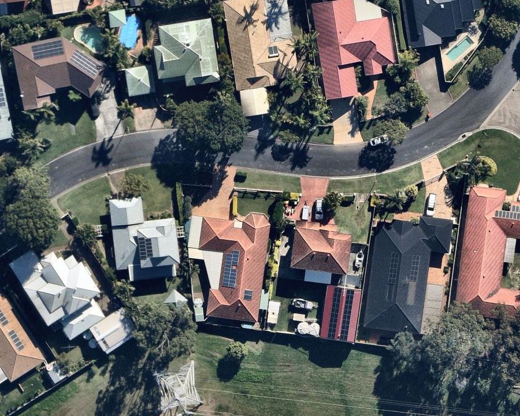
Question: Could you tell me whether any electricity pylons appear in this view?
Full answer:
Yes, looking at the shot, I can spot an electricity pylon.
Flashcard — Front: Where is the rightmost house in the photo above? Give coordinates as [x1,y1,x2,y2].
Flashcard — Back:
[454,183,520,322]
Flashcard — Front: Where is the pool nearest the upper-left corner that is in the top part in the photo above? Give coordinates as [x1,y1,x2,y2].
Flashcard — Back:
[74,24,105,53]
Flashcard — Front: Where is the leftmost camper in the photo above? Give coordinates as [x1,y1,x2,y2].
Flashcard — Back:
[265,300,280,325]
